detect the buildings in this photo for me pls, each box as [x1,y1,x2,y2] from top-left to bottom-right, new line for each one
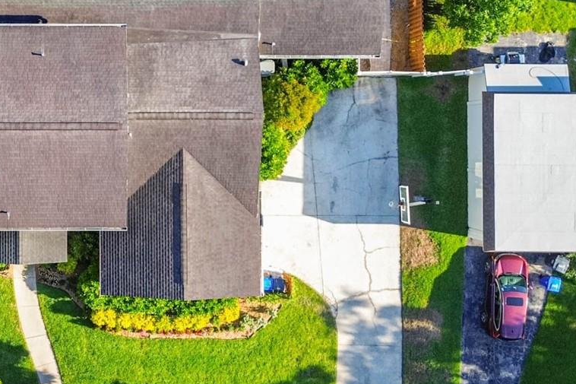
[467,64,576,254]
[0,0,390,301]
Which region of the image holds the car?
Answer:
bottom right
